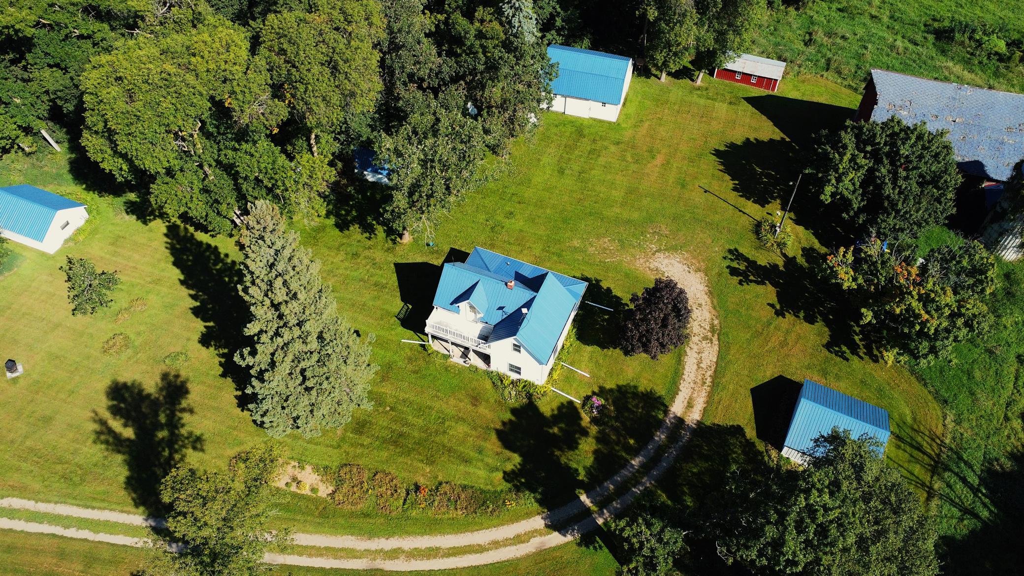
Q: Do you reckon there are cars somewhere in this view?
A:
No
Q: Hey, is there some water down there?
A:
No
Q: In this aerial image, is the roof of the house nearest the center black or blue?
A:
blue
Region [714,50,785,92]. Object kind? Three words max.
shed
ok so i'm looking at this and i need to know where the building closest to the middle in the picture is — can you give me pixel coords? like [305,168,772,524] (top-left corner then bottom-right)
[423,246,590,384]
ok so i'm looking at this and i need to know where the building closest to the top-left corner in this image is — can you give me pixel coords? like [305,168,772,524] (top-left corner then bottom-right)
[0,184,89,253]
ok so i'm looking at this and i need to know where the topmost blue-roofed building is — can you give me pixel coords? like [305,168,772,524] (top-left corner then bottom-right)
[538,44,632,123]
